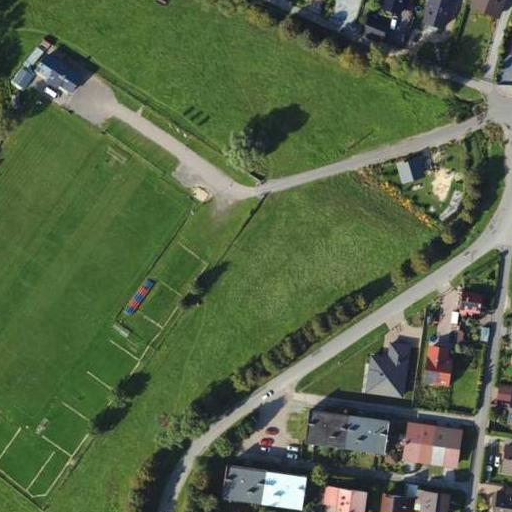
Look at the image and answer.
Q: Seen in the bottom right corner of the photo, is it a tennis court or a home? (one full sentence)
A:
Visible in the bottom right corner of the photo is a home.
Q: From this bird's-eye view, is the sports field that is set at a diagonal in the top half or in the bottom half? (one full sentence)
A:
It is in the bottom half that the sports field that is set at a diagonal appears.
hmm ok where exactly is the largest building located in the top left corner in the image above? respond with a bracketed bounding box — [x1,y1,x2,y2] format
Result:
[36,53,84,94]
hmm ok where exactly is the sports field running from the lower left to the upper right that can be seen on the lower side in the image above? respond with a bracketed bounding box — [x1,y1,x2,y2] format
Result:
[0,203,209,504]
